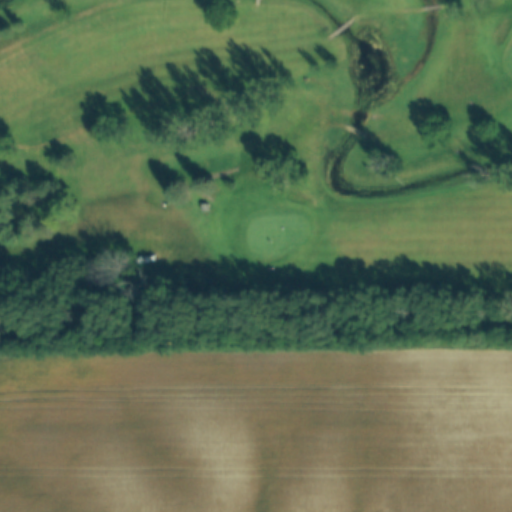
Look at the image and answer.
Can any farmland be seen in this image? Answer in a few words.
Yes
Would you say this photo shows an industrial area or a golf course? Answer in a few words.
golf course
